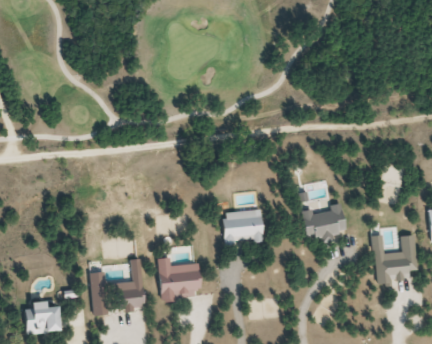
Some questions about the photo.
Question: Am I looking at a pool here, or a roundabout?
pool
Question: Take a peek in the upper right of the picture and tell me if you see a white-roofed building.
No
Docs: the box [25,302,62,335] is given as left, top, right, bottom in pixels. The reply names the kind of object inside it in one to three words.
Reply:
house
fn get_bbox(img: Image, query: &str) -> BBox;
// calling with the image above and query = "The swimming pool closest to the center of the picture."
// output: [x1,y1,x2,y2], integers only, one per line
[234,191,258,208]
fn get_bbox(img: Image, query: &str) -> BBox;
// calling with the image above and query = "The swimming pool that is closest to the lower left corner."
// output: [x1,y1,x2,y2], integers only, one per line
[32,276,55,298]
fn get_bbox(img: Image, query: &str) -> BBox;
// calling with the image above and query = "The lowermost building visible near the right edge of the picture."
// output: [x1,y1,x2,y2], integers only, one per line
[372,224,419,287]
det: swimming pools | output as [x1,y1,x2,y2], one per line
[170,246,194,264]
[102,264,130,283]
[32,276,55,298]
[304,180,330,210]
[380,226,400,251]
[234,191,258,208]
